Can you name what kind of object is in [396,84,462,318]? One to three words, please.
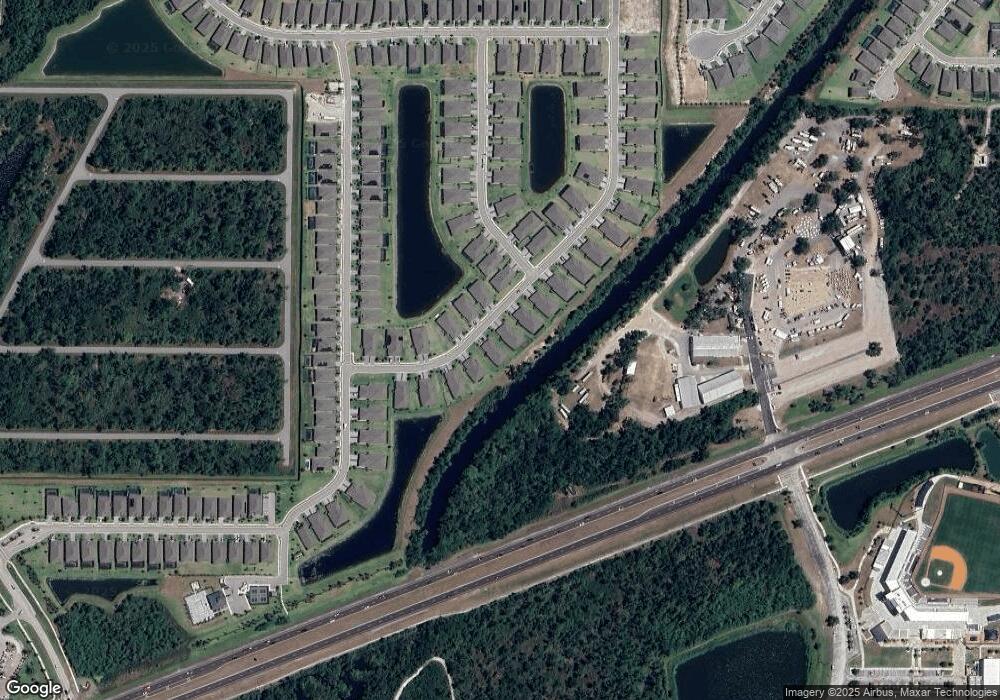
pond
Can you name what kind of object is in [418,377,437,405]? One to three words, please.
house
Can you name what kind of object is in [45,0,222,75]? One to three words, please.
pond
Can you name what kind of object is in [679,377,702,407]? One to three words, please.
building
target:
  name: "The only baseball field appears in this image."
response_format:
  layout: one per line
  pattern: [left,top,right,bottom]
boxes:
[912,484,1000,598]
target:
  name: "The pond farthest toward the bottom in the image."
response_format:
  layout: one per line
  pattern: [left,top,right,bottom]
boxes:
[675,631,808,700]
